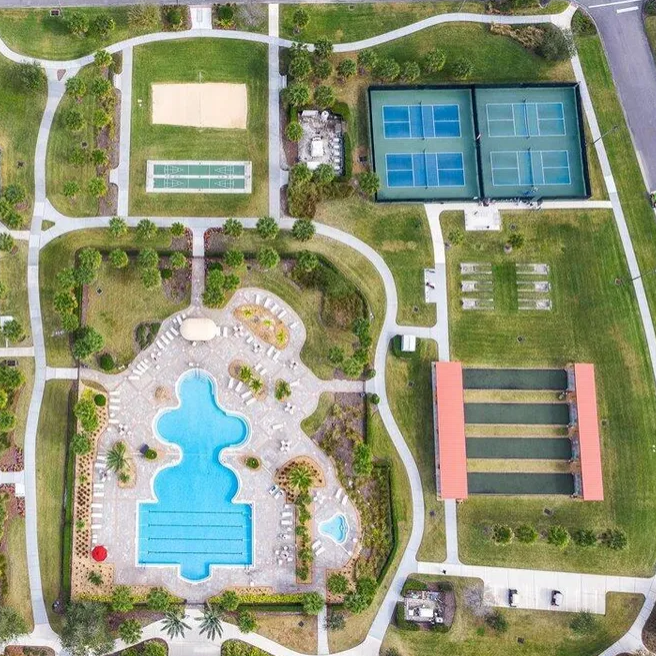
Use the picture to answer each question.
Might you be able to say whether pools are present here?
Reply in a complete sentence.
Yes, there's a pool down there.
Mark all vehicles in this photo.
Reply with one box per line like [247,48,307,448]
[508,592,520,610]
[648,191,656,207]
[549,592,562,610]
